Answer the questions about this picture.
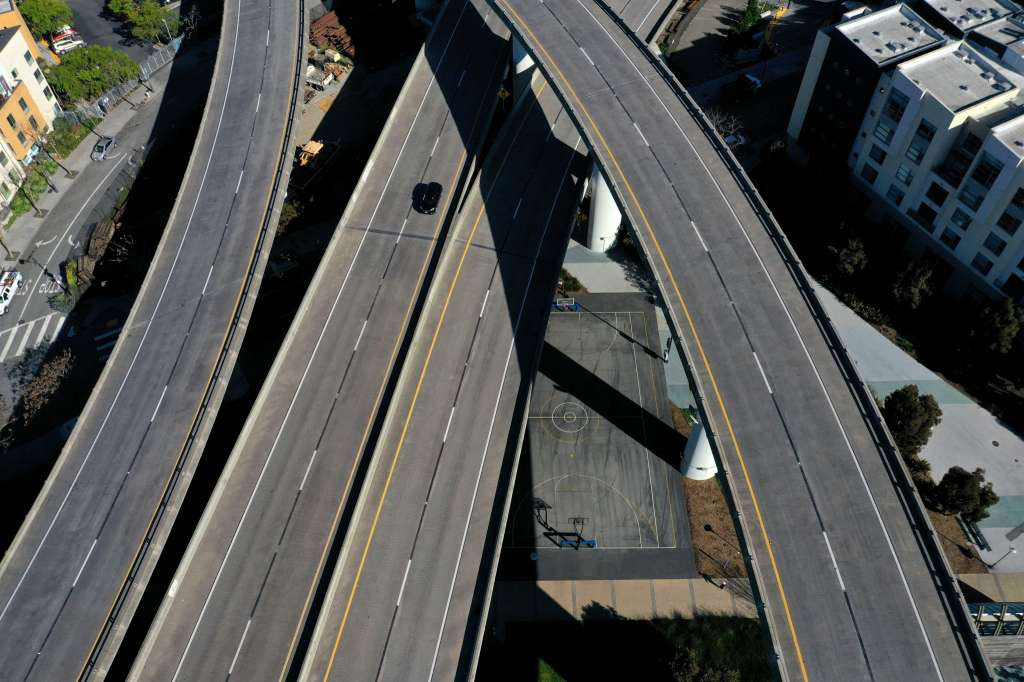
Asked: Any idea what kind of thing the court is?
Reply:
basketball court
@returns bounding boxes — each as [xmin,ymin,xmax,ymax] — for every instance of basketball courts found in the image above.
[495,293,697,578]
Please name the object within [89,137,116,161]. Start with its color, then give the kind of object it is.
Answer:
gray car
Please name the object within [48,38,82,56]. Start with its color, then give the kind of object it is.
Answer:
white car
